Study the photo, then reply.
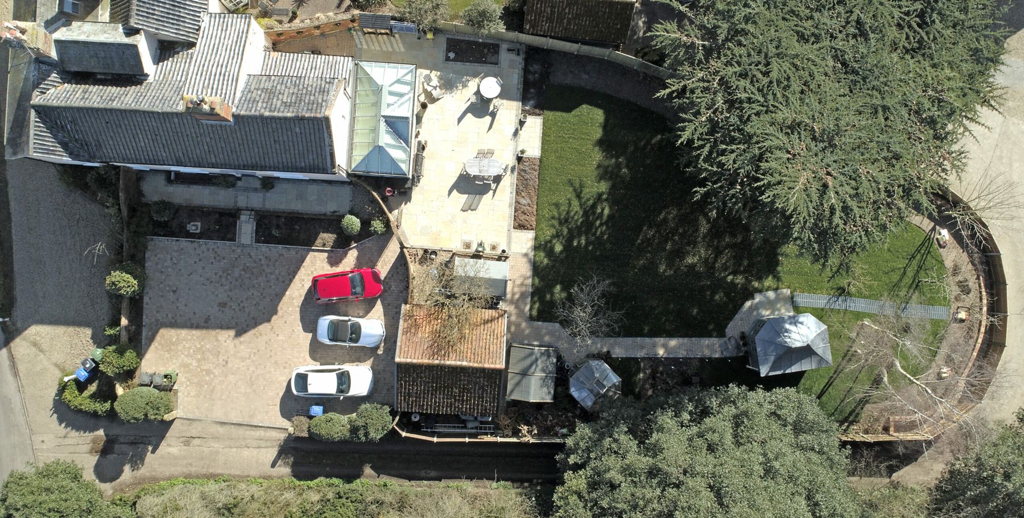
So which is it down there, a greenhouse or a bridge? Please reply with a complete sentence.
I can see a greenhouse in this picture.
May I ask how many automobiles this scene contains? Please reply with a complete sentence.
In total, 3 automobiles can be seen.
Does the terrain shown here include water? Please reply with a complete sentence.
No, water can't be seen anywhere here.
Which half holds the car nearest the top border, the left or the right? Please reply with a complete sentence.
The car nearest the top border is on the left side of the image.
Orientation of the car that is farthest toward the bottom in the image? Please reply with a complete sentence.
From this overhead view, the car that is farthest toward the bottom appears to run horizontally.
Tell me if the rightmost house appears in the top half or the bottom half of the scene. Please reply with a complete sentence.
It is in the bottom half that the rightmost house appears.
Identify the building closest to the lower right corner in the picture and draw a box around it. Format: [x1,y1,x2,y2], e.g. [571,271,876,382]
[747,312,833,377]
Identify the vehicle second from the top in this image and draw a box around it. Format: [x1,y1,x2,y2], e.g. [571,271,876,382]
[314,312,387,351]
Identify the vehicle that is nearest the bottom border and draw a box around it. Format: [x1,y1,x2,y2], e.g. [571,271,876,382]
[290,361,375,401]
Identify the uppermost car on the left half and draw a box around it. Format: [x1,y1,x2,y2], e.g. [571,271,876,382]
[309,264,387,303]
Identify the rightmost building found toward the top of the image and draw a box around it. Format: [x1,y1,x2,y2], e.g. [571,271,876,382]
[523,0,634,49]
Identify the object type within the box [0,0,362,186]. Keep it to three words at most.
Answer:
house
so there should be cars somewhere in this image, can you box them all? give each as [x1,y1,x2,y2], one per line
[309,264,387,303]
[314,312,387,351]
[290,361,375,401]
